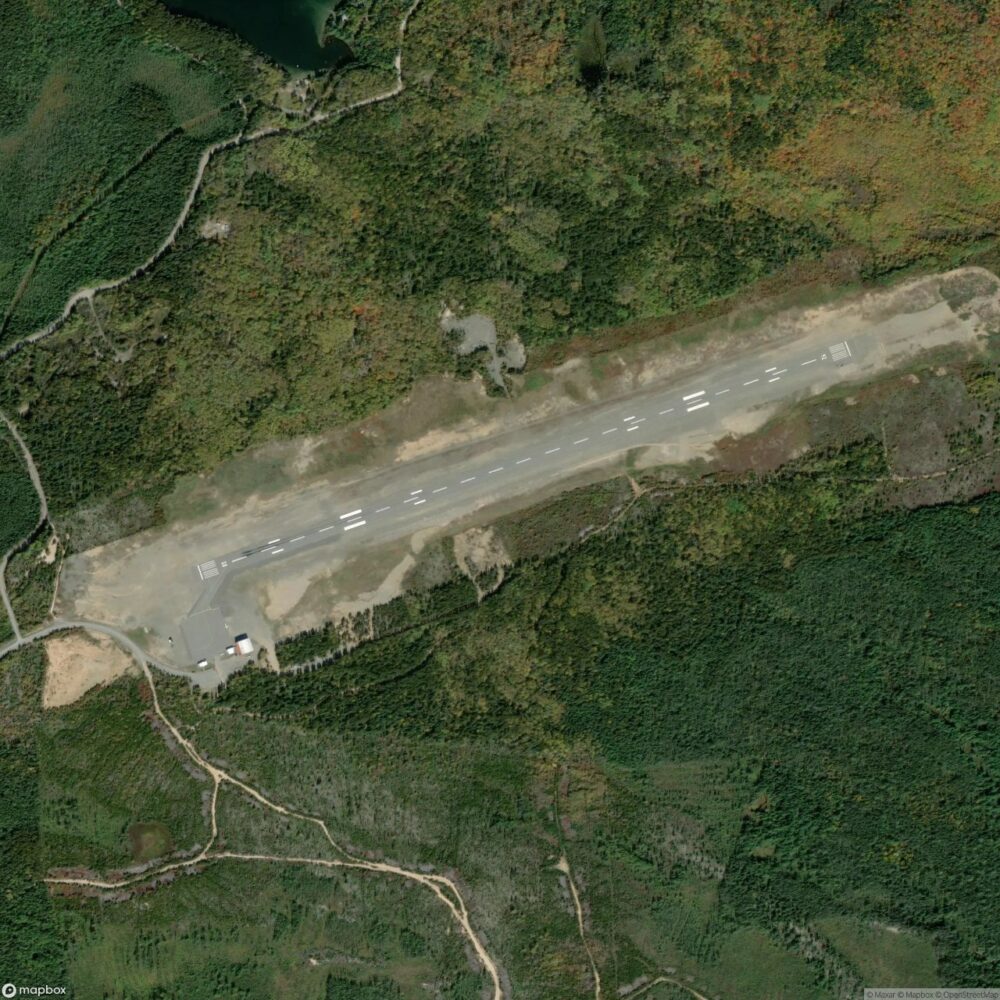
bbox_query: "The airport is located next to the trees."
[181,336,864,663]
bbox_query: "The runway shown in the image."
[193,336,864,582]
